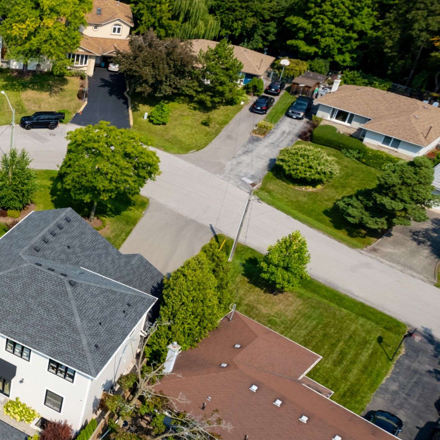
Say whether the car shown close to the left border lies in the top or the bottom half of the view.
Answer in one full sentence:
The car shown close to the left border is in the top half of the image.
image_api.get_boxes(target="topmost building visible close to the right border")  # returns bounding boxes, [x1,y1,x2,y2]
[314,75,440,162]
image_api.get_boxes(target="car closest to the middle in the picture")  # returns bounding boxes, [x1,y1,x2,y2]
[254,92,276,111]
